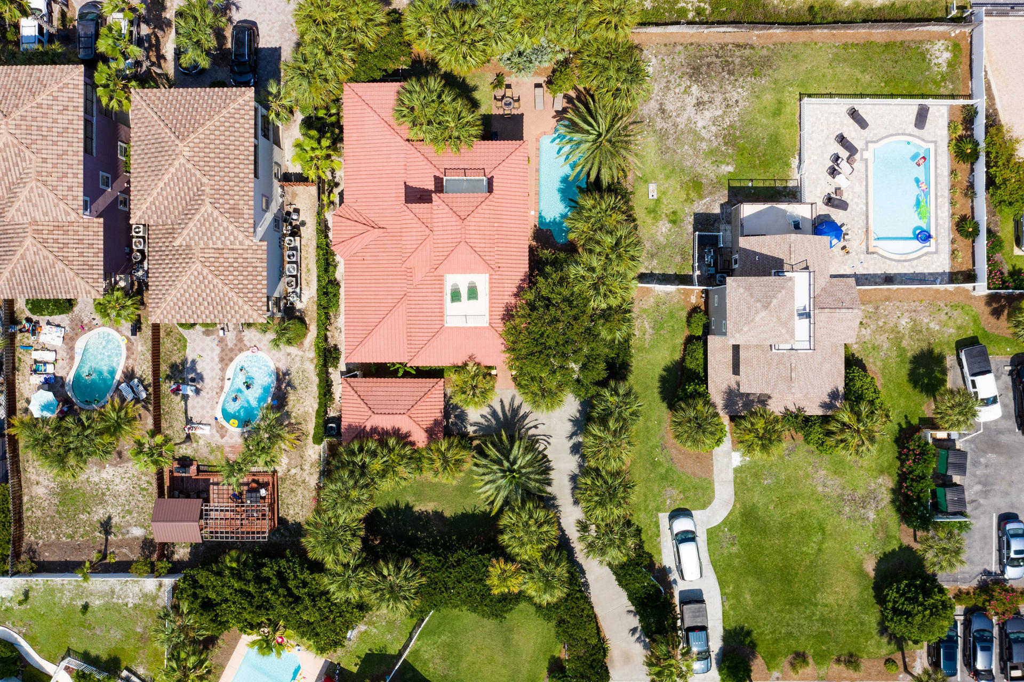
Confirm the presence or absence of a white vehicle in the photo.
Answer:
Yes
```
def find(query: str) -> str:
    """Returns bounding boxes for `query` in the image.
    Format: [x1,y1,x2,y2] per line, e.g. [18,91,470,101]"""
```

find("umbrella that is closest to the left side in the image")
[32,389,61,418]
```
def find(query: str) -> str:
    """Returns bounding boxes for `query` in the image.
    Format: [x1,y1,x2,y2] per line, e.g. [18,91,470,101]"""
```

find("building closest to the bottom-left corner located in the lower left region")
[147,499,203,543]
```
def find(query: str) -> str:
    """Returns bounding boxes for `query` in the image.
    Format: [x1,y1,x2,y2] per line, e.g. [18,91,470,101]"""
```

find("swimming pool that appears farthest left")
[66,328,125,409]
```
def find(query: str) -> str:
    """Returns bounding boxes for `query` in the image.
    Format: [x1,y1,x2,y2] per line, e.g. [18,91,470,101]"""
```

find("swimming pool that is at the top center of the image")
[539,121,588,244]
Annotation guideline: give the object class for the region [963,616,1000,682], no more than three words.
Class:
car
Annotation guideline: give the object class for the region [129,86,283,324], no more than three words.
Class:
house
